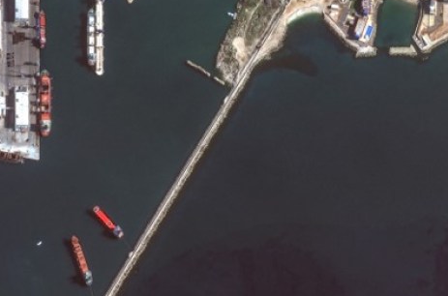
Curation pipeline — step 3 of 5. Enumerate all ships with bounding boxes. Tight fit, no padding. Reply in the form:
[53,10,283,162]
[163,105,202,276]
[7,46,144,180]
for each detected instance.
[37,69,51,137]
[84,7,95,67]
[70,236,93,288]
[96,204,122,240]
[37,9,47,49]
